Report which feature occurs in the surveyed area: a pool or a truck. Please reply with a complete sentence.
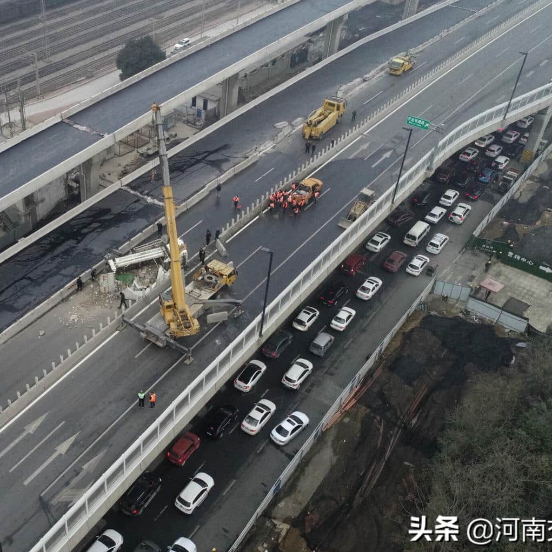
There is a truck in the scene.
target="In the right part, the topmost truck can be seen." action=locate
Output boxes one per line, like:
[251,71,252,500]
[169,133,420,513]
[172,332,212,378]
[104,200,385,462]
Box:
[384,52,417,77]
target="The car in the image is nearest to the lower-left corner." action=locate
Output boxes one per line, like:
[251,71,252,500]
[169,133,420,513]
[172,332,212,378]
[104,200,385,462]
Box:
[84,525,124,552]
